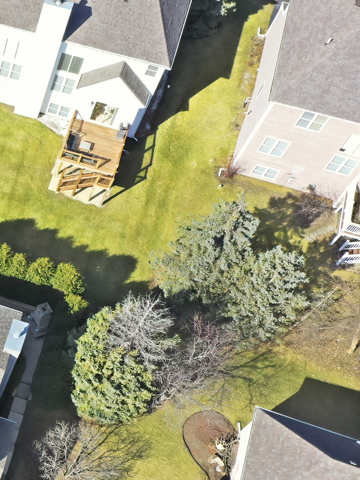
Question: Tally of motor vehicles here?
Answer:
0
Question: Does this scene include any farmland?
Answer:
No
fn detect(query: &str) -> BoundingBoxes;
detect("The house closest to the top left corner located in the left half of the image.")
[0,0,193,152]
